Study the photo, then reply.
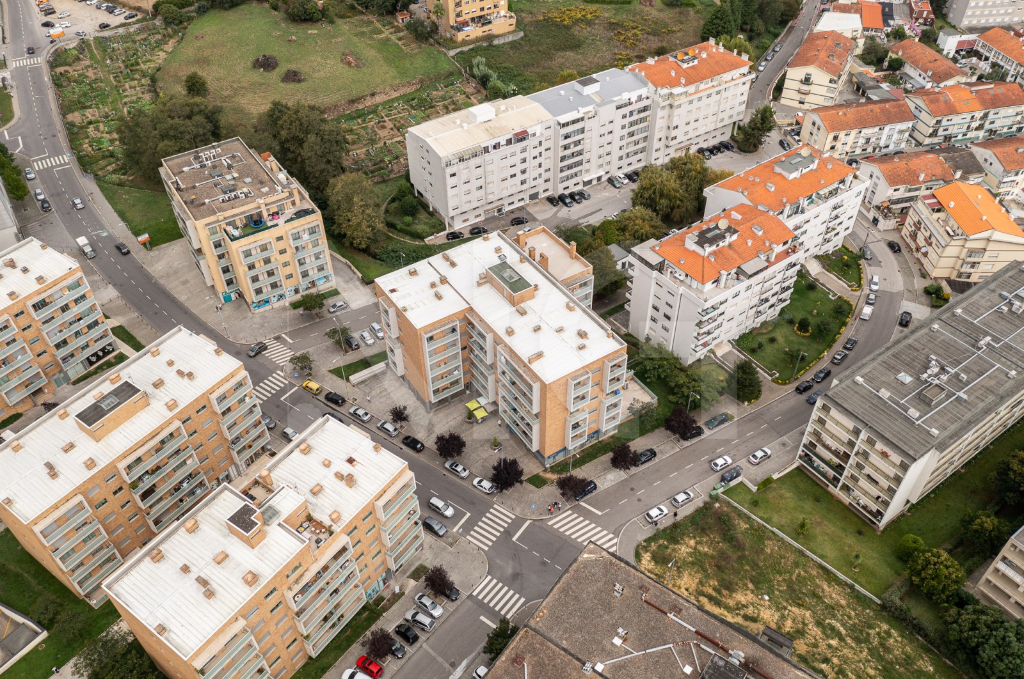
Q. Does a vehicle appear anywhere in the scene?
Yes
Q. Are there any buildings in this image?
Yes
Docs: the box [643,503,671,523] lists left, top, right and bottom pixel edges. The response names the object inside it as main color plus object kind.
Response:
white car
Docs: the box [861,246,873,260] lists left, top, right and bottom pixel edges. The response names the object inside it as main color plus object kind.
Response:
gray vehicle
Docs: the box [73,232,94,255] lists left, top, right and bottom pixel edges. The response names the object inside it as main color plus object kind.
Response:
white truck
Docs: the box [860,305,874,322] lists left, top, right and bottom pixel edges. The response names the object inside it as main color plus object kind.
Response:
white vehicle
